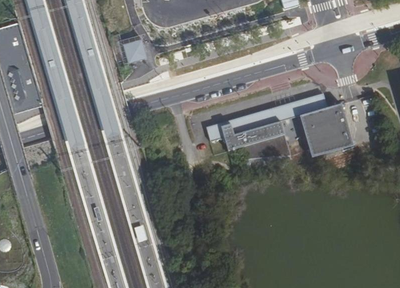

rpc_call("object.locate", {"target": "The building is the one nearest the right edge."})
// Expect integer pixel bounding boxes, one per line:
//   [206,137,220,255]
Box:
[300,102,354,156]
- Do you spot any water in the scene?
Yes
